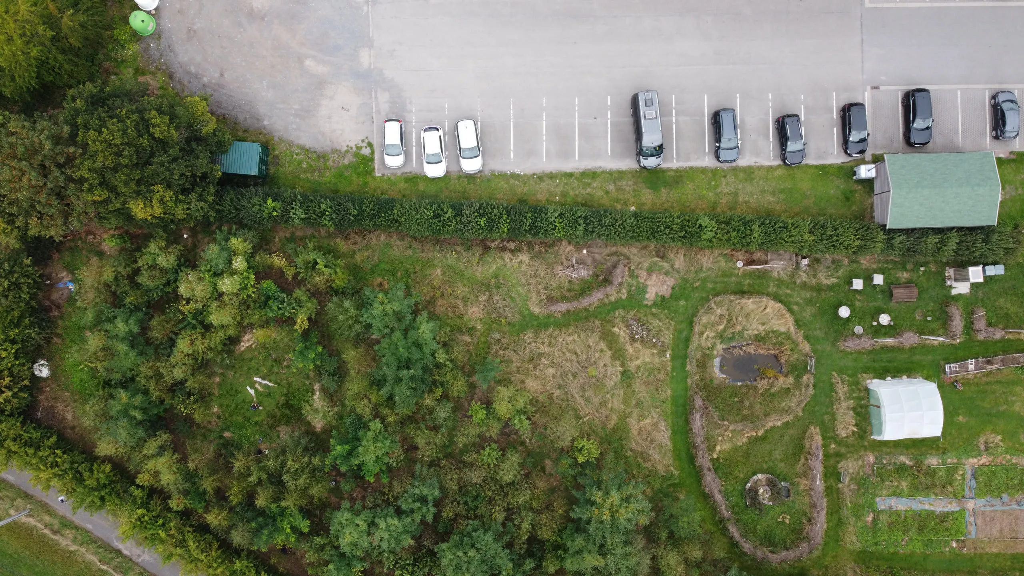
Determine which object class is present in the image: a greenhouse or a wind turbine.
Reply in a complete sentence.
Of the two, only a greenhouse appears.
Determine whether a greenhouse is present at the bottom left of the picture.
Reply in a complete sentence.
No, no greenhouse is visible at the bottom left of the picture.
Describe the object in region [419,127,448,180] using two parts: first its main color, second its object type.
white car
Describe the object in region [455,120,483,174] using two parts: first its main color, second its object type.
white car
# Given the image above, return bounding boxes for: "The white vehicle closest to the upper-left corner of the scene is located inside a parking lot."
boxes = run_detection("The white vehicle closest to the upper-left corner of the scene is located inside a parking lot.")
[380,119,407,169]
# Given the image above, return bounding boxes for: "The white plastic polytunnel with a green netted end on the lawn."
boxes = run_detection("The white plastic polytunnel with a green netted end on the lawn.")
[867,371,946,441]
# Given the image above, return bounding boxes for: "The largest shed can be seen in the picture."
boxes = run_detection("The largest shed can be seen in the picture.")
[867,149,1004,231]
